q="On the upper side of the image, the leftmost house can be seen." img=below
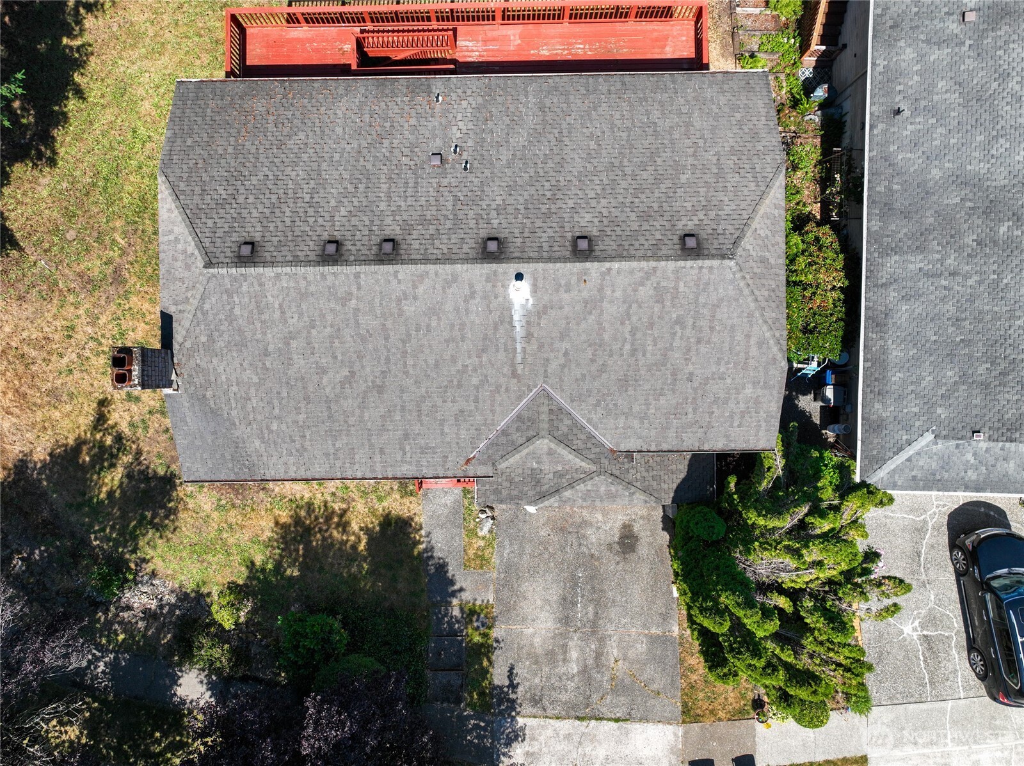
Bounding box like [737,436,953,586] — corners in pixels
[111,65,790,511]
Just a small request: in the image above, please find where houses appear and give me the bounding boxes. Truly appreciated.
[111,65,790,511]
[836,0,1024,499]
